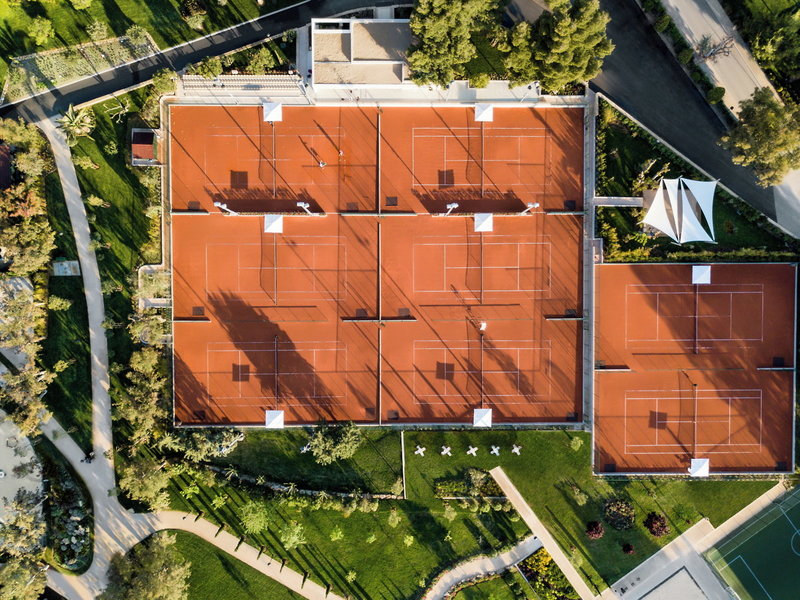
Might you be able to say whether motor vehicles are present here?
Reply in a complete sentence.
No, no motor vehicle is visible in the scene.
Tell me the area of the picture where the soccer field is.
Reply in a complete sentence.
The soccer field is in the bottom right part of the image.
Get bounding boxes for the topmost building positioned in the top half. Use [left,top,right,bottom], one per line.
[312,16,411,93]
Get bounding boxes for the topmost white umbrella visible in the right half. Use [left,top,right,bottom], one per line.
[475,103,493,122]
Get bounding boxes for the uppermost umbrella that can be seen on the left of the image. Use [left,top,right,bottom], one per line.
[262,102,282,122]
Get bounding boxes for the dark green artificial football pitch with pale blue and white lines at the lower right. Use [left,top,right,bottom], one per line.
[704,480,800,600]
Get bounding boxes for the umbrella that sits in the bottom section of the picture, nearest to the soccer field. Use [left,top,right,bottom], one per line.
[688,458,708,476]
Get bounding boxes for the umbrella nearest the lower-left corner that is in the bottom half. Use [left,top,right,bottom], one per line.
[266,409,284,428]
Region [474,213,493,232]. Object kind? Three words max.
umbrella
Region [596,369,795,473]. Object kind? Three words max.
tennis court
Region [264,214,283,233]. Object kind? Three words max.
umbrella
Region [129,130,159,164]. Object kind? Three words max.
shed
